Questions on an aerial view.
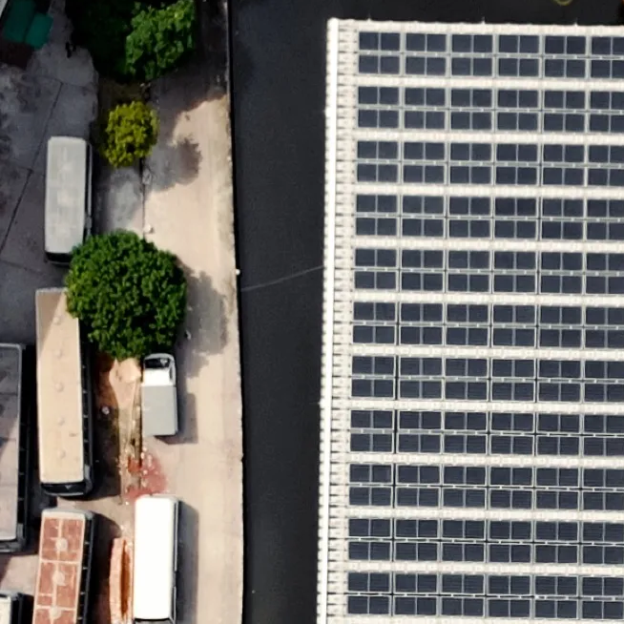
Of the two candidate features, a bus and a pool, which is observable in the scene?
bus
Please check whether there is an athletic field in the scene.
No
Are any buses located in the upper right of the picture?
No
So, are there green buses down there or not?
No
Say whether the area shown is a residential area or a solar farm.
solar farm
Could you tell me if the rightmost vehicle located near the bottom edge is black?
No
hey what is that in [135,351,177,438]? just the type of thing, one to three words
truck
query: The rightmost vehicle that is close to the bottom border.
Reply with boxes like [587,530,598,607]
[134,493,183,624]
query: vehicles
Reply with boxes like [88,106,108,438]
[35,503,100,624]
[0,587,26,624]
[0,343,38,555]
[134,493,183,624]
[47,138,100,268]
[38,290,97,497]
[135,351,177,438]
